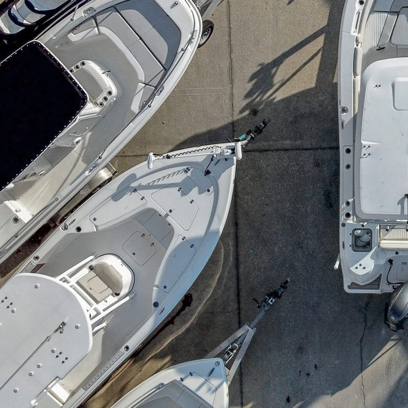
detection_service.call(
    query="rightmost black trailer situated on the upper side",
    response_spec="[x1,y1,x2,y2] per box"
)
[232,110,283,170]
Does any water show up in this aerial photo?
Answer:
No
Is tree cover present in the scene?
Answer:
No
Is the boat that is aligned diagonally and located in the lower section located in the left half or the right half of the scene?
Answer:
left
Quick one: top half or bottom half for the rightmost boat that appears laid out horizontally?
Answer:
bottom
